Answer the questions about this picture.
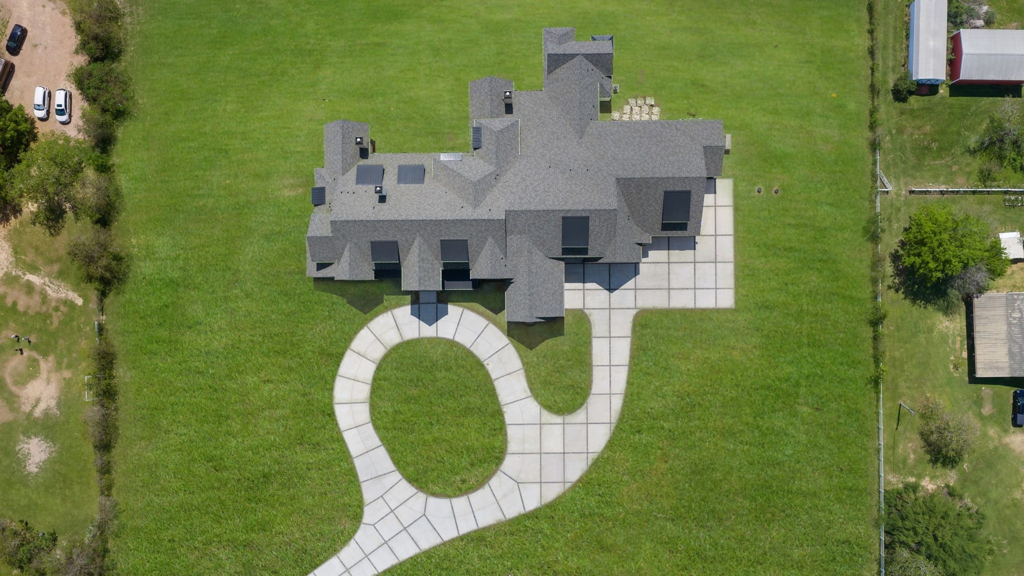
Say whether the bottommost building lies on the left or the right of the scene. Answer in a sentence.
The bottommost building appears in the right half of the scene.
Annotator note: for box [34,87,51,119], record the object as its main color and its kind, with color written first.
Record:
white car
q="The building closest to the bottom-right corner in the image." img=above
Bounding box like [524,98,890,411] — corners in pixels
[966,292,1024,377]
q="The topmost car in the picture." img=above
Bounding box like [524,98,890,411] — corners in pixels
[9,24,28,56]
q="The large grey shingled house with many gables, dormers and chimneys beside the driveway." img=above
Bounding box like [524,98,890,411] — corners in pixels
[306,27,731,323]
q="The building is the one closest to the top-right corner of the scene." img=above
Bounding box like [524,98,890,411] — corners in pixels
[950,29,1024,82]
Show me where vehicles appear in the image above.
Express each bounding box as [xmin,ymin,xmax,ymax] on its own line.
[0,58,14,98]
[56,90,73,123]
[34,87,51,119]
[1013,389,1024,427]
[9,24,28,56]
